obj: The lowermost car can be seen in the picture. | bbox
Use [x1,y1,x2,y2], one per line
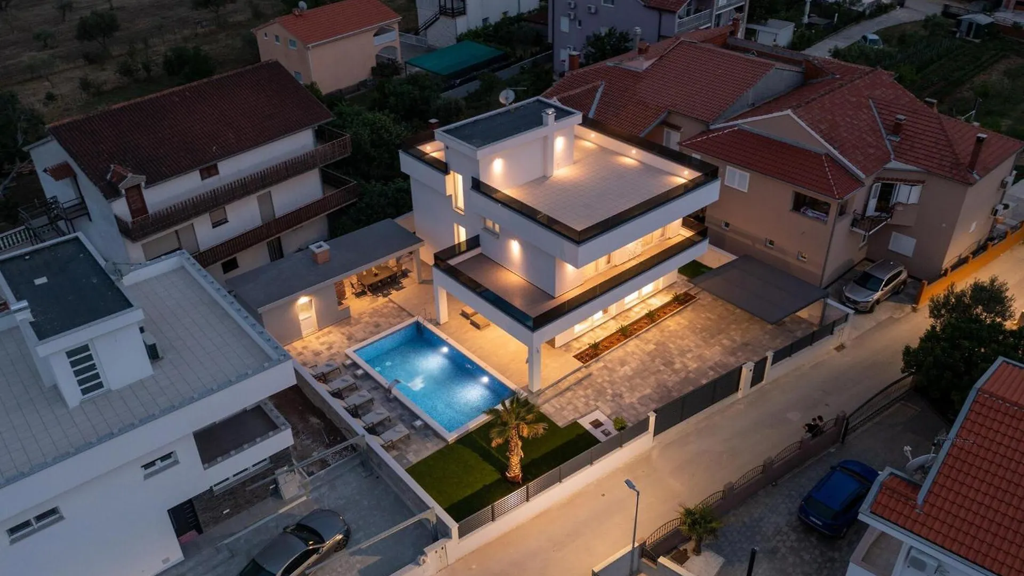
[247,511,348,576]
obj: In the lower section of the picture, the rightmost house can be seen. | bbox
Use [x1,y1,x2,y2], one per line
[837,351,1024,576]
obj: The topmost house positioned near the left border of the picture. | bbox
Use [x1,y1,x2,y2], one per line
[21,60,357,291]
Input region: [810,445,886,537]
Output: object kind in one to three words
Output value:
car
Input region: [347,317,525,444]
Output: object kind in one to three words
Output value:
swimming pool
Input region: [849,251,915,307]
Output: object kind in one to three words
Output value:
car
